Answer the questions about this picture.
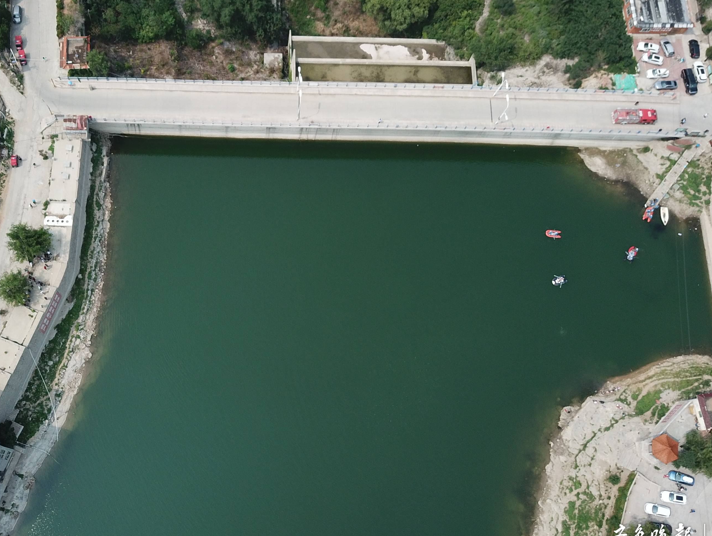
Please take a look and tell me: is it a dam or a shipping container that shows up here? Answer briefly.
dam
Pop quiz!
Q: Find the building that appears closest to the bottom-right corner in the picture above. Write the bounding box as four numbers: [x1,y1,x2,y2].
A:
[642,434,679,467]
